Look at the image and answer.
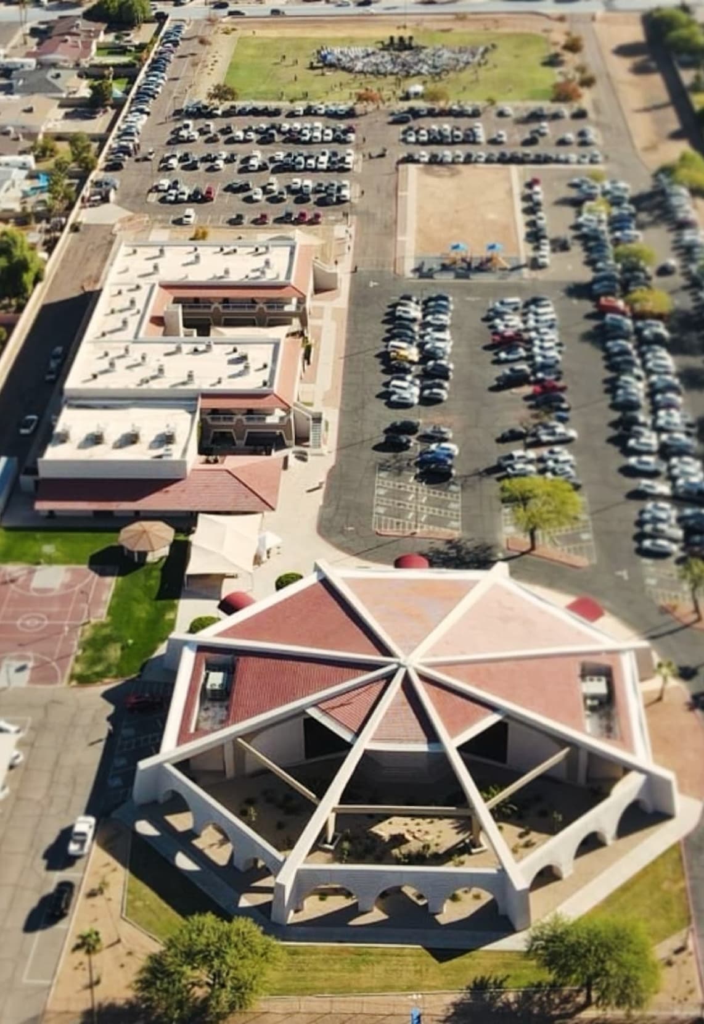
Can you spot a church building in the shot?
Yes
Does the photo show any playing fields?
Yes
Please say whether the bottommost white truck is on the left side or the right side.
left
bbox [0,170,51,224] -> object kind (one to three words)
house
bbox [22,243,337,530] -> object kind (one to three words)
building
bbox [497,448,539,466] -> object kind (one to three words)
vehicle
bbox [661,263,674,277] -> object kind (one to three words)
vehicle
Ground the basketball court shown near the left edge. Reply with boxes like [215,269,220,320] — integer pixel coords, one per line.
[0,565,120,686]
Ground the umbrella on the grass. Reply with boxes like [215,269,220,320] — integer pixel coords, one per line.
[120,525,172,568]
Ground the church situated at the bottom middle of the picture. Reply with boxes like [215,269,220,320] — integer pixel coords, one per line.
[133,558,680,931]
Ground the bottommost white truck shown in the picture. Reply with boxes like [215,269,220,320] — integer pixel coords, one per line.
[65,817,97,861]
